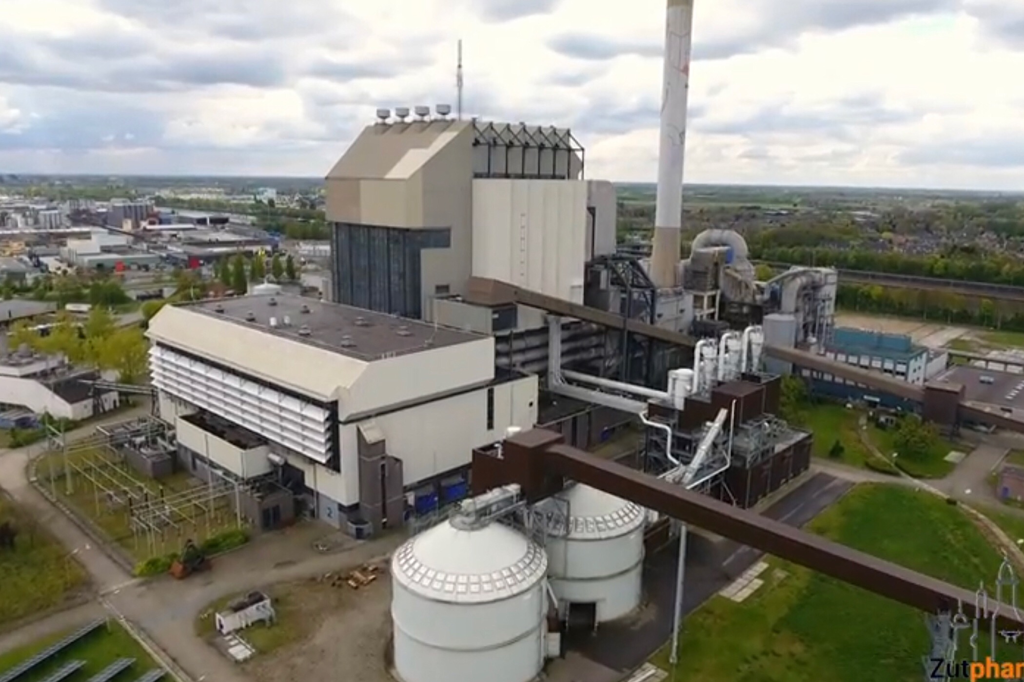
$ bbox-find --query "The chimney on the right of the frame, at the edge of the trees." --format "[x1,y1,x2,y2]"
[651,0,695,289]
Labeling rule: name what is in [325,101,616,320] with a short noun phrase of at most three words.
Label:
building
